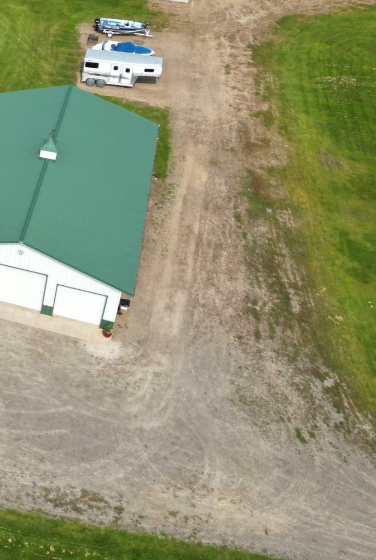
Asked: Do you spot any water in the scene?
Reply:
No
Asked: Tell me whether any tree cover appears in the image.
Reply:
No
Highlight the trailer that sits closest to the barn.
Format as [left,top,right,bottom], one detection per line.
[81,47,162,89]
